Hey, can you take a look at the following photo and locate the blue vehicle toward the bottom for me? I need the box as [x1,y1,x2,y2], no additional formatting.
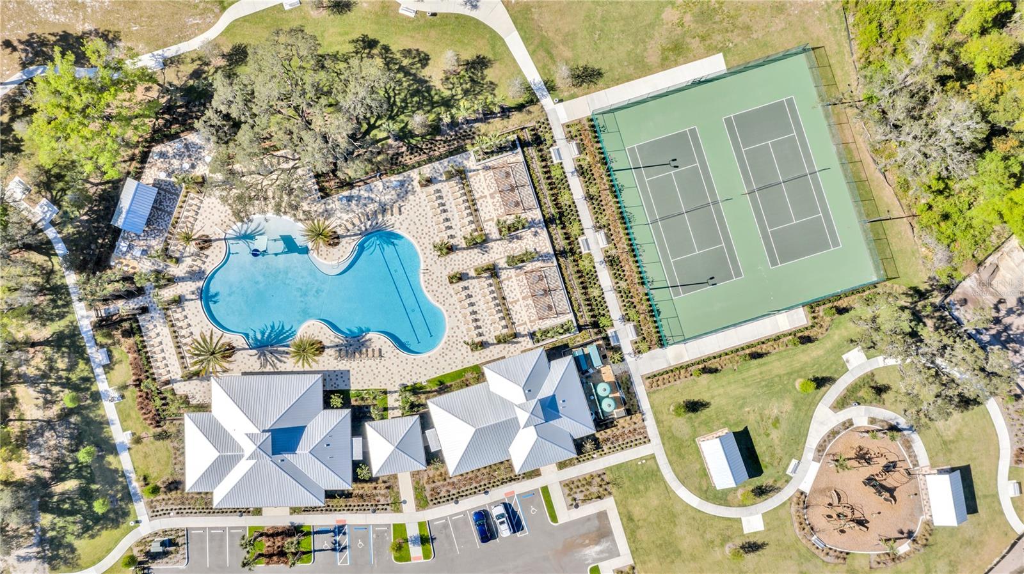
[473,511,493,545]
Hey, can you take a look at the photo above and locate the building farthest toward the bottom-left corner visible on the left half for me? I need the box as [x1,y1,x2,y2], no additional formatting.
[184,374,353,508]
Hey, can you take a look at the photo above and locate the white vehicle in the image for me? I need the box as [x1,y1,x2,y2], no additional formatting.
[491,506,511,541]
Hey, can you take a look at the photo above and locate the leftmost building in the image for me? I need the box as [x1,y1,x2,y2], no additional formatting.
[111,178,164,234]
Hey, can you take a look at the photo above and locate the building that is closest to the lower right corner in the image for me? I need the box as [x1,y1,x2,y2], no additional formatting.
[919,467,967,527]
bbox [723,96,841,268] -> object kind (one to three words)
tennis court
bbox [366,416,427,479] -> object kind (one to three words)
building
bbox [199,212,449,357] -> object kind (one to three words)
swimming pool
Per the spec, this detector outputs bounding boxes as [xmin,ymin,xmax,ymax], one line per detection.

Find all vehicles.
[491,506,511,541]
[473,511,493,545]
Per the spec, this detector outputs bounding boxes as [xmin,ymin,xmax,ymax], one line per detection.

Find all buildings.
[184,374,353,508]
[111,178,164,234]
[366,416,427,479]
[429,348,597,477]
[919,467,967,527]
[699,431,749,490]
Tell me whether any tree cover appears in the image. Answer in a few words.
Yes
